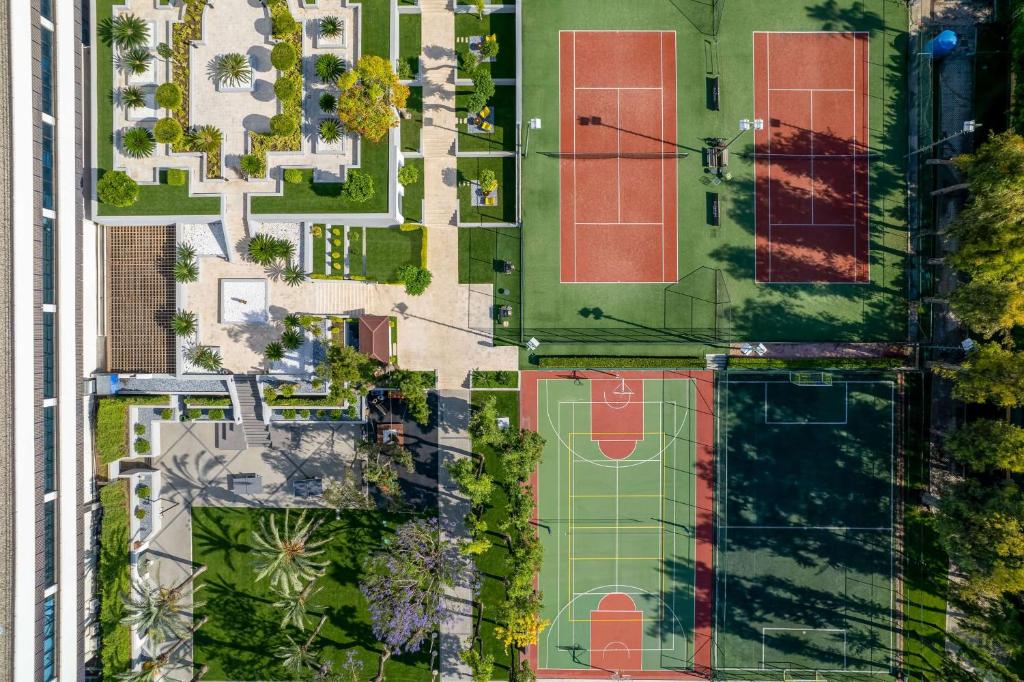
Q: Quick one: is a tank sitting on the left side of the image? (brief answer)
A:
No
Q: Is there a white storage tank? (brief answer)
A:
No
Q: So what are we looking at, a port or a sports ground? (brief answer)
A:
sports ground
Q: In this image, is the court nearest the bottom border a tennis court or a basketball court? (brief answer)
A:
basketball court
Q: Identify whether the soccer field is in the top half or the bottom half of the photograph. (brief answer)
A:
bottom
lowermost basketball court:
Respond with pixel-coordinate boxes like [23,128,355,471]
[537,379,696,670]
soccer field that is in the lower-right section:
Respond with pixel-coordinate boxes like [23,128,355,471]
[717,381,893,671]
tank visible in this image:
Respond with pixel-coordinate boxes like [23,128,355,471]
[920,25,956,54]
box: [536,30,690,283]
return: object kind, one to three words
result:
tennis court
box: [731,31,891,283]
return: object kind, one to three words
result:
tennis court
